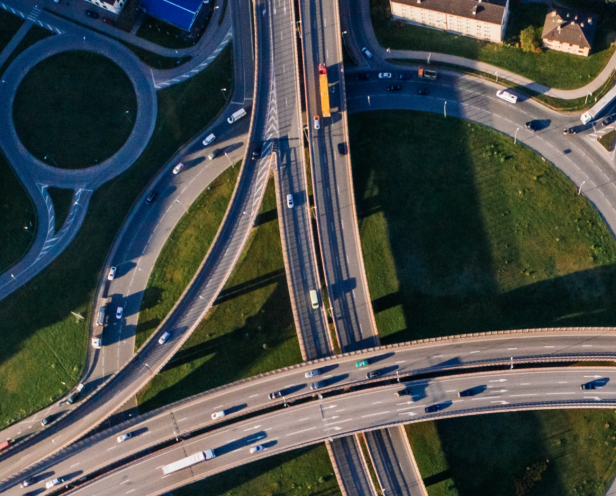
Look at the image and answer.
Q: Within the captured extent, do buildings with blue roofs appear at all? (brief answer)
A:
Yes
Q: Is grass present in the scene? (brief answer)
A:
Yes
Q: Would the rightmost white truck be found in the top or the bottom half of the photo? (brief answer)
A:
top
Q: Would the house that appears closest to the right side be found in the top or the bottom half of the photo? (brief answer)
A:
top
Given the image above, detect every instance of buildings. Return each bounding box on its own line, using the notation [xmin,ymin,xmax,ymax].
[389,0,509,46]
[79,0,126,16]
[138,0,212,37]
[542,10,597,57]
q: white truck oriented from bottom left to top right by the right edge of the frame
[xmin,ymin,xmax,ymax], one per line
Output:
[578,84,616,121]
